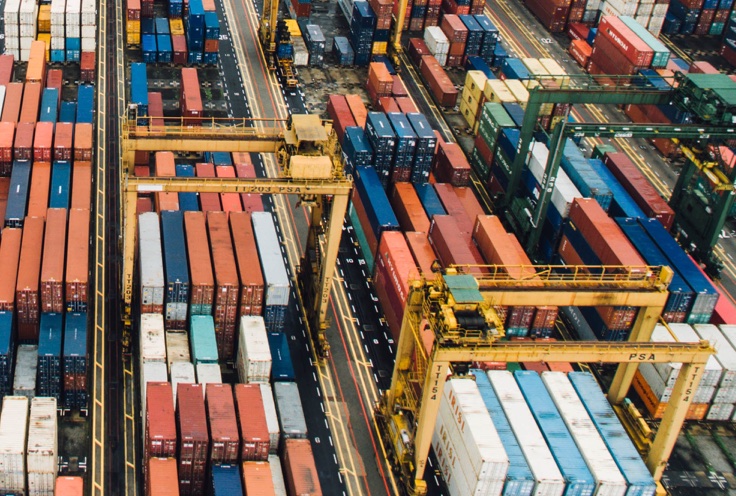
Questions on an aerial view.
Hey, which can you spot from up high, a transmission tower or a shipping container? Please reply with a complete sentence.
There is a shipping container in the scene.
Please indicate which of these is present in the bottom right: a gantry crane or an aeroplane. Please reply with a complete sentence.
The feature located in the bottom right is a gantry crane.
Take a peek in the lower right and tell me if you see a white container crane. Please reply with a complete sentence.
No, there is no white container crane in the lower right.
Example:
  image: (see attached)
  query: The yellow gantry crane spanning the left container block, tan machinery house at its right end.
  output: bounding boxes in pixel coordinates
[114,113,358,367]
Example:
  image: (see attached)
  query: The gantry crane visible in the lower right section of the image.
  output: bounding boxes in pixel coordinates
[378,262,720,496]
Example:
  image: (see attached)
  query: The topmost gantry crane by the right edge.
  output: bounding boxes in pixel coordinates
[496,65,736,275]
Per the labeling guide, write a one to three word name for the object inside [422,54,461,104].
shipping container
